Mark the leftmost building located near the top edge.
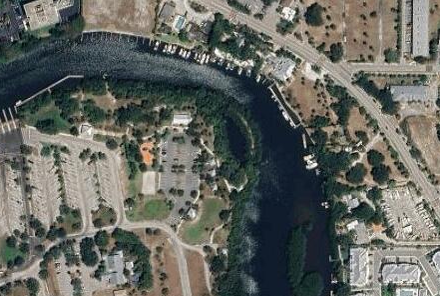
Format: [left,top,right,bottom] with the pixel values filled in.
[22,0,73,30]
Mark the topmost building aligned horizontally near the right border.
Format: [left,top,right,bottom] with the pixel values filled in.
[391,85,428,101]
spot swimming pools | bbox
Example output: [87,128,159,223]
[396,287,419,296]
[174,14,185,32]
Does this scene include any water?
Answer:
Yes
